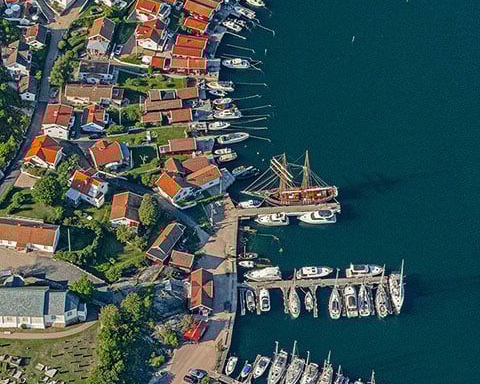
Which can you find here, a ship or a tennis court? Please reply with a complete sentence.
The image shows a ship.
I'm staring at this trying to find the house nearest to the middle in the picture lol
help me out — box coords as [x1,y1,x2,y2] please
[200,164,226,194]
